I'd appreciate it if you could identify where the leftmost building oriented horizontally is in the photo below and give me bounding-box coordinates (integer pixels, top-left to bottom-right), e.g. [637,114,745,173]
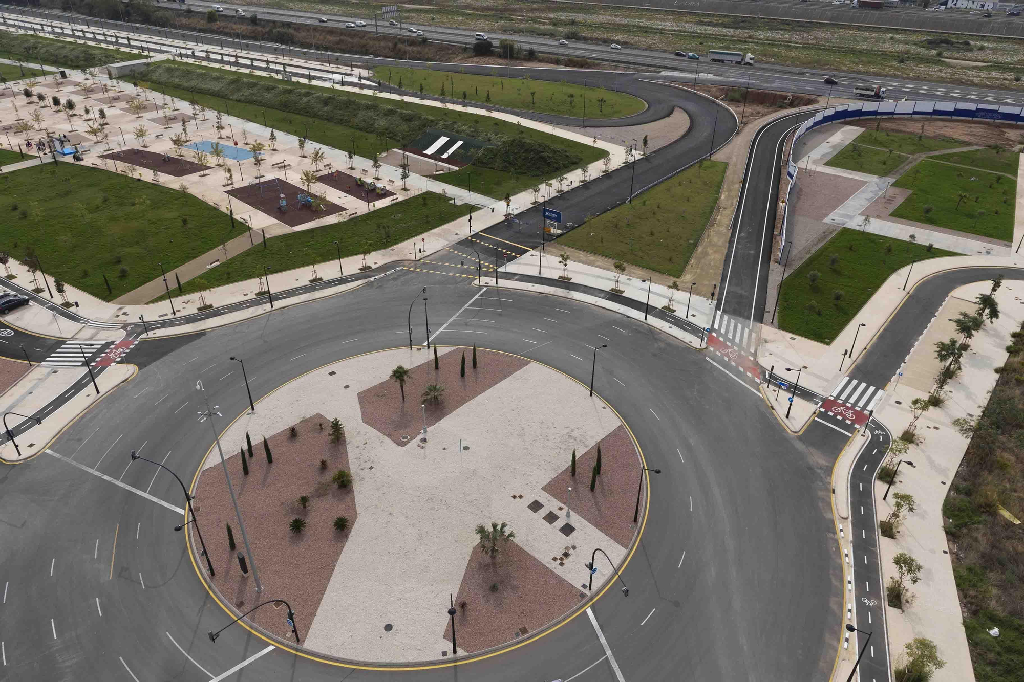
[105,60,147,76]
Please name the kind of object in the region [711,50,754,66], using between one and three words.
vehicle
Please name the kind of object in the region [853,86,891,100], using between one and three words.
vehicle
